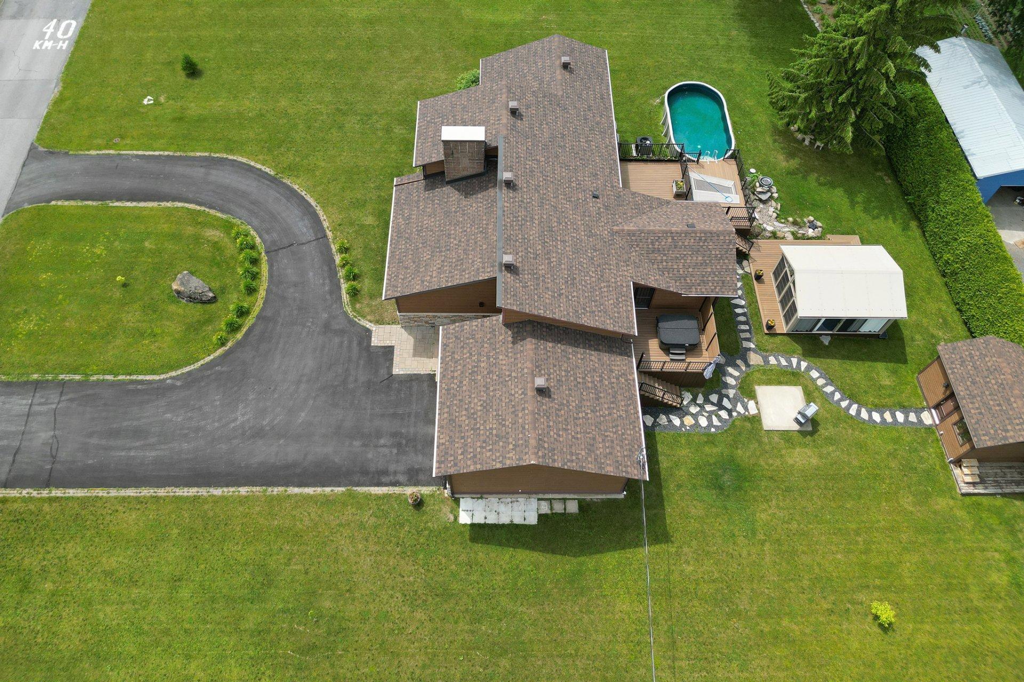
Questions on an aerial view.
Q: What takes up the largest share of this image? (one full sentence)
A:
What you mostly see from above here is grass.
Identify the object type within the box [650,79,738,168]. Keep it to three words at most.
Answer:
swimming pool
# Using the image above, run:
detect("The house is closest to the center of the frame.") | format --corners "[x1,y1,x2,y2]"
[382,35,740,504]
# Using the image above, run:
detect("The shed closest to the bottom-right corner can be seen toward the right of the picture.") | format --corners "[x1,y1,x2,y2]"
[920,337,1024,465]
